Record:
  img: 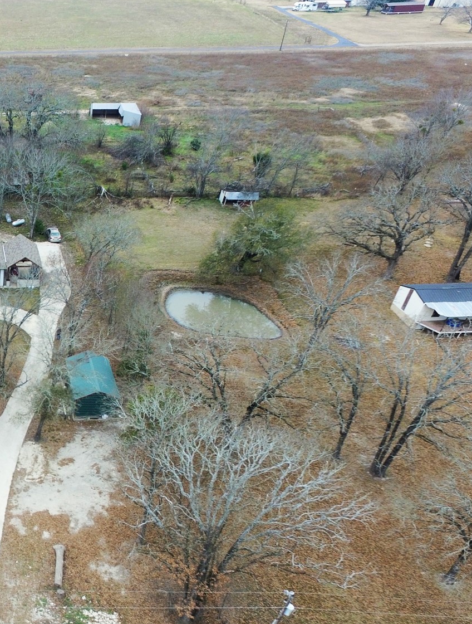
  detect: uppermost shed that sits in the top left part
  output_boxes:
[88,96,153,124]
